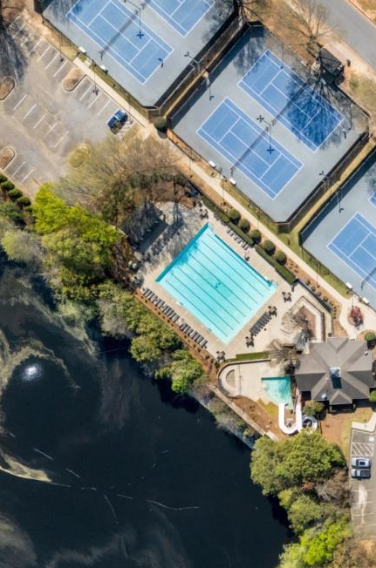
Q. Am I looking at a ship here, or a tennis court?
tennis court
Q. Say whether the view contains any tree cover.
Yes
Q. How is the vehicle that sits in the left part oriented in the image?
at an angle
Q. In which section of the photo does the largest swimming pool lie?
center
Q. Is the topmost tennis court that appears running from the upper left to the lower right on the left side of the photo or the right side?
left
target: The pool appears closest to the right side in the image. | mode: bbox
[262,376,294,409]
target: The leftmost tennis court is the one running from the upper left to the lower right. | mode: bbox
[65,0,175,84]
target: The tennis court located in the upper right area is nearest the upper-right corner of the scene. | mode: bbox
[236,48,345,153]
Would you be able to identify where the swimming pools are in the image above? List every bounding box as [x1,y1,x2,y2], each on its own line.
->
[262,376,294,409]
[155,223,277,344]
[226,369,236,388]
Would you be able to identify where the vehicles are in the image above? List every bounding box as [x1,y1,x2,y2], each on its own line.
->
[350,458,371,469]
[349,469,372,480]
[104,108,127,131]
